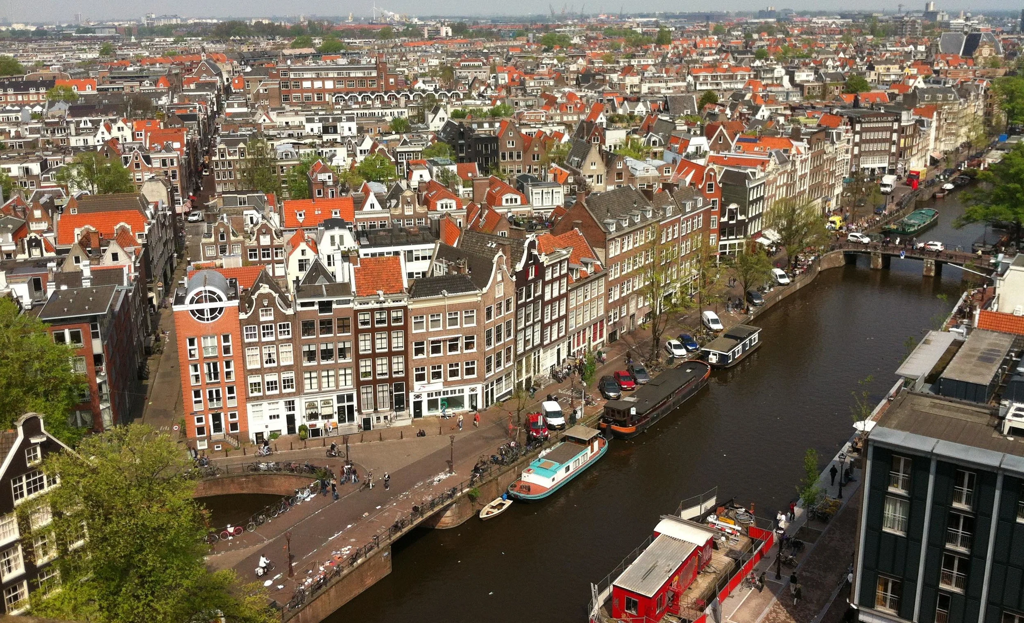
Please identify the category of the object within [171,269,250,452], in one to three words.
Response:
house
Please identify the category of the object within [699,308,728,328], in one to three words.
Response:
vehicle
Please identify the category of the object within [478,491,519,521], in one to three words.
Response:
boat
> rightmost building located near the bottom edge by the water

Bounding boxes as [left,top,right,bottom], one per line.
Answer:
[839,391,1024,623]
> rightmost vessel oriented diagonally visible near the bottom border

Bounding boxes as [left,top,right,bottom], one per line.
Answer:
[585,497,772,623]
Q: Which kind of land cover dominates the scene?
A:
buildings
